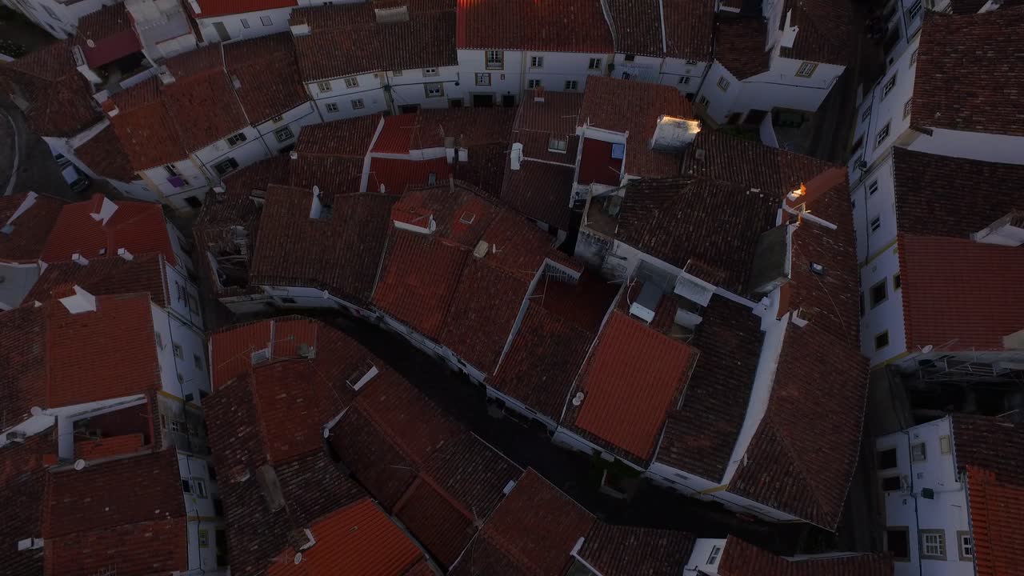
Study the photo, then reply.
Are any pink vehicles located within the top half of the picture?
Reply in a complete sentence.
No, I can find no pink vehicle within the top half of the picture.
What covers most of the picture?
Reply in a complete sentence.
The scene is dominated by buildings.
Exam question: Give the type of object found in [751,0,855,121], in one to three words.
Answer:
house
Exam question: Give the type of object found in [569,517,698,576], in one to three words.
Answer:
house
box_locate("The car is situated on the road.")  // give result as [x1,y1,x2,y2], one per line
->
[46,148,89,195]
